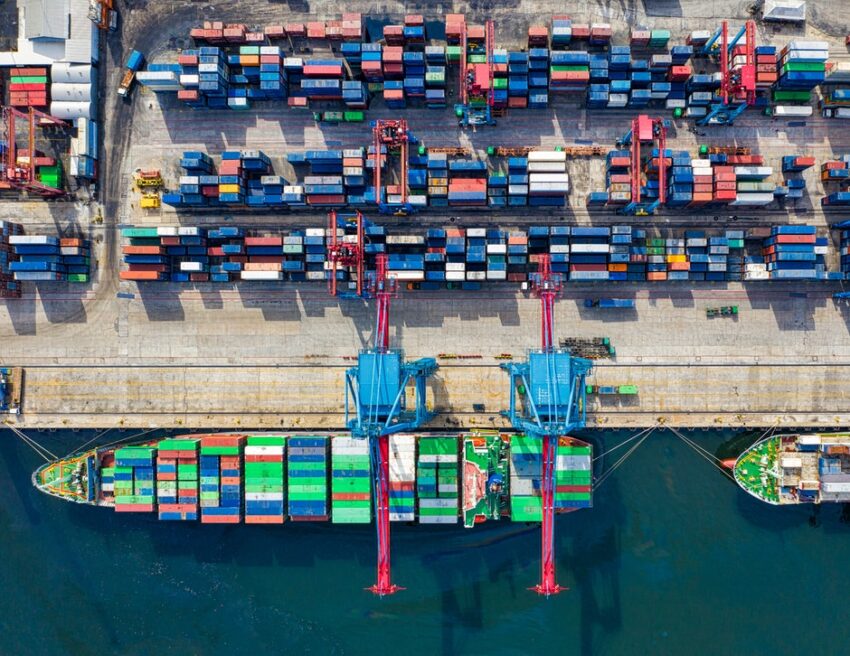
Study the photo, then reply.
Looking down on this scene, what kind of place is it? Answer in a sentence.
This looks like a port.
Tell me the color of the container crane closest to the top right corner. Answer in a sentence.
The container crane closest to the top right corner looks red in the image.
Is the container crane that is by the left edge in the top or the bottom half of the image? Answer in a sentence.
It is in the top half that the container crane that is by the left edge appears.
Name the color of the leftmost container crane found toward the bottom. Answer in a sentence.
From above, the leftmost container crane found toward the bottom appears blue.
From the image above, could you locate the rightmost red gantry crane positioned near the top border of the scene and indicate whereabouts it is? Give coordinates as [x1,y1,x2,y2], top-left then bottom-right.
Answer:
[695,18,758,129]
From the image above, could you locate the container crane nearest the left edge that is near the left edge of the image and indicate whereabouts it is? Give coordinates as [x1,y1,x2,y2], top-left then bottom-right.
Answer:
[11,104,86,200]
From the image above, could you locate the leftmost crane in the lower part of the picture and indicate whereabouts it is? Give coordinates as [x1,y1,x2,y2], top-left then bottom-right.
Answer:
[344,255,438,599]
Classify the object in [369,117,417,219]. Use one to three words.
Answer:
container crane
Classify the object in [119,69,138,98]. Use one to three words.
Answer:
vehicle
